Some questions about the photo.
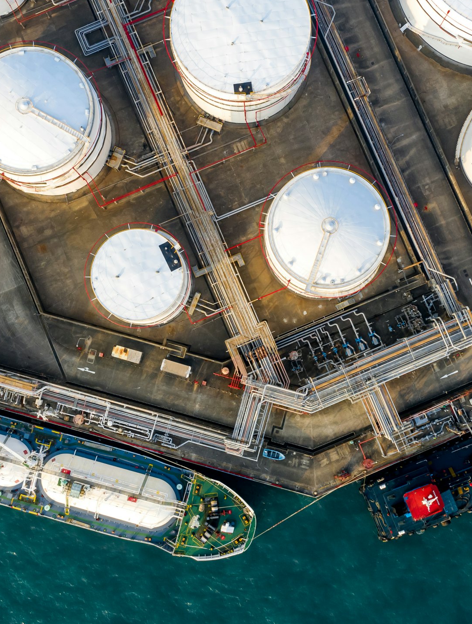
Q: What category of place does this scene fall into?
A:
industrial area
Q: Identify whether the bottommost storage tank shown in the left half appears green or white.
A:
white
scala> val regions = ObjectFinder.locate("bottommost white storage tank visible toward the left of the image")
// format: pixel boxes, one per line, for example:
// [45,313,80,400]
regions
[84,221,194,328]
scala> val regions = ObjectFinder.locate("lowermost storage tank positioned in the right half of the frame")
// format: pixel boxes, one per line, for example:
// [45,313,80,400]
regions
[259,161,397,301]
